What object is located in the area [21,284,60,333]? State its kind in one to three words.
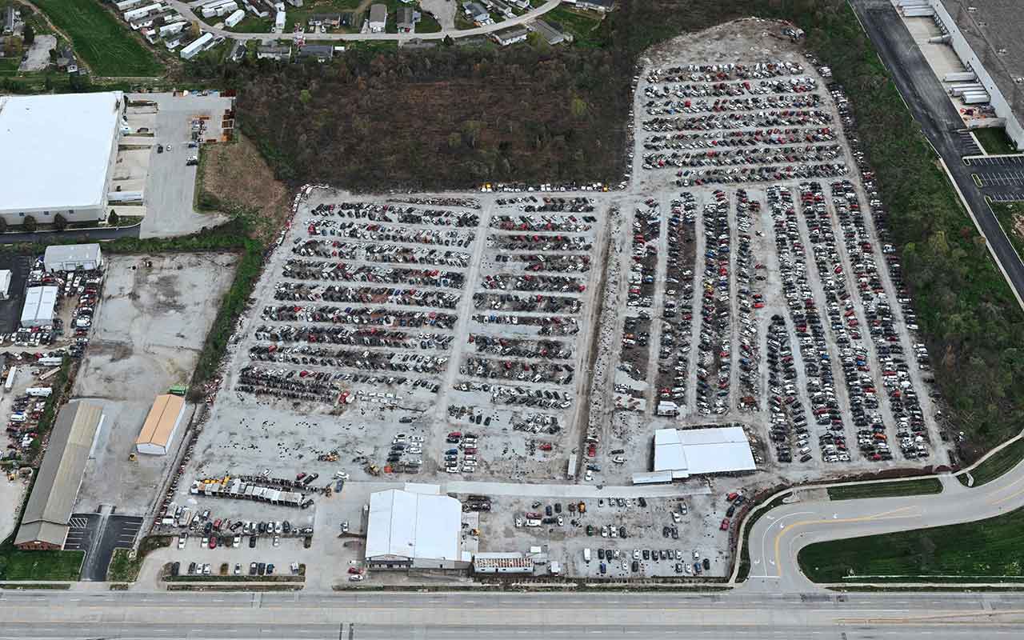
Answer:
shed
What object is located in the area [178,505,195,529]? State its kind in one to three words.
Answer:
vehicle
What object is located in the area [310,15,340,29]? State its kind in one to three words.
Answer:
house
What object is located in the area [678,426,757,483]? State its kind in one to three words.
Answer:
building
